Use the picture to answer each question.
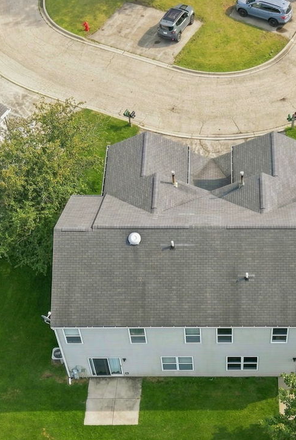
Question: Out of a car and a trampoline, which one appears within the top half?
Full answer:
The one visible within the top half is a car.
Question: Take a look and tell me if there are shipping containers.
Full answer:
No, the photo shows no shipping container.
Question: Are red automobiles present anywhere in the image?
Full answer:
No, this view has no red automobile in it.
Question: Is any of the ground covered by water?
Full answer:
No, no water is visible.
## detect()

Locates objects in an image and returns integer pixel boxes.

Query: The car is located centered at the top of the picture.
[155,6,196,44]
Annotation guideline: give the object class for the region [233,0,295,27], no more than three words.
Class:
car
